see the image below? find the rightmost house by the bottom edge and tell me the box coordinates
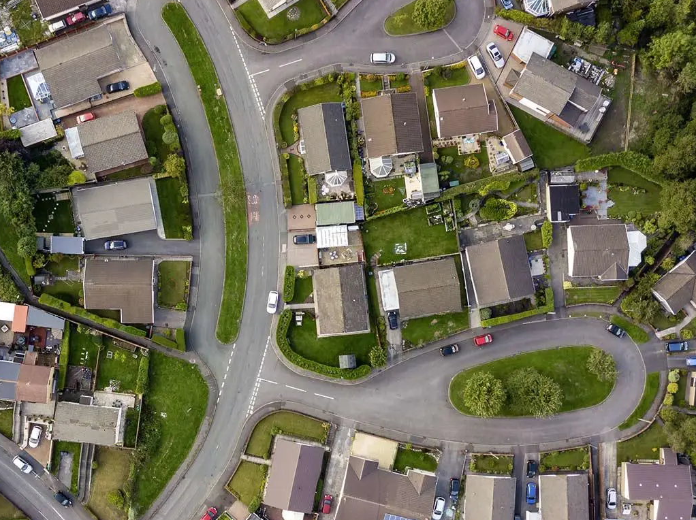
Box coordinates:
[619,447,696,520]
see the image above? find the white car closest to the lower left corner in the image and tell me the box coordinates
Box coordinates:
[11,453,34,473]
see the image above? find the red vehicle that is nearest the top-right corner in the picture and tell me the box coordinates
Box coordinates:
[492,22,514,40]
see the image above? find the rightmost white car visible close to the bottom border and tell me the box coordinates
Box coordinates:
[606,486,619,509]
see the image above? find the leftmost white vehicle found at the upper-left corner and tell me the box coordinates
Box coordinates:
[47,18,66,34]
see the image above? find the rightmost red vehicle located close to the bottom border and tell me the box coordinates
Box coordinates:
[320,492,333,514]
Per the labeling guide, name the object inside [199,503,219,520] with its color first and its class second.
red car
